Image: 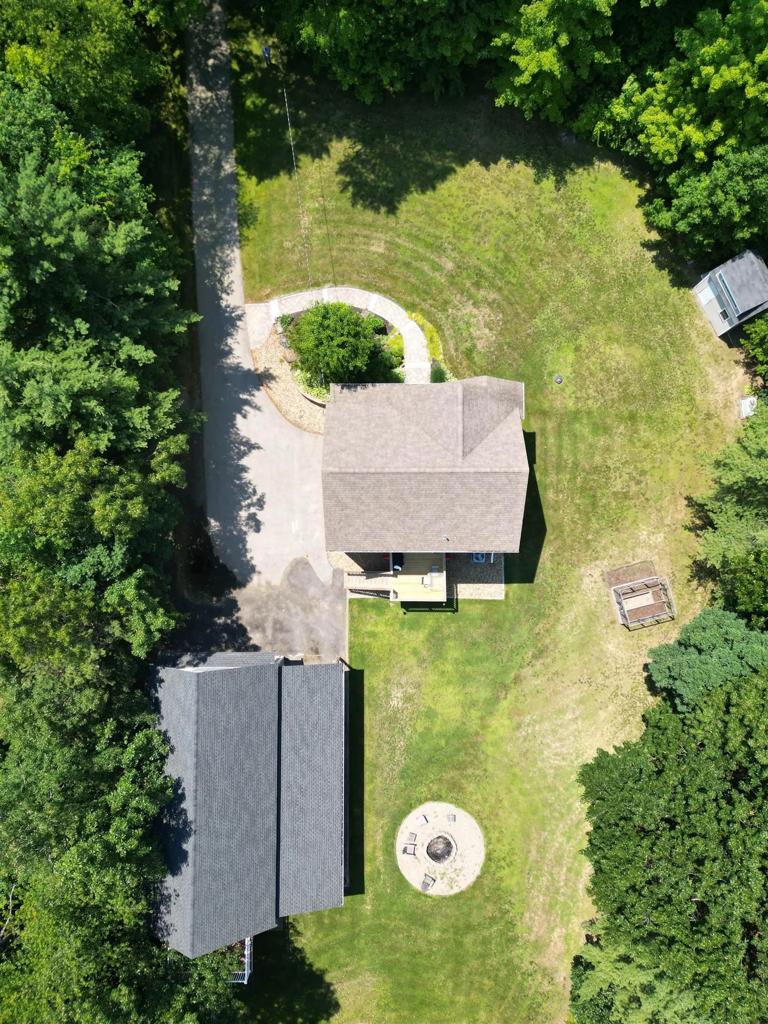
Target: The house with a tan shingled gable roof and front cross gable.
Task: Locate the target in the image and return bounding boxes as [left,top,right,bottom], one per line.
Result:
[320,370,528,554]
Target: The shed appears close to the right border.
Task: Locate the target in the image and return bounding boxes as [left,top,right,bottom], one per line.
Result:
[693,248,768,337]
